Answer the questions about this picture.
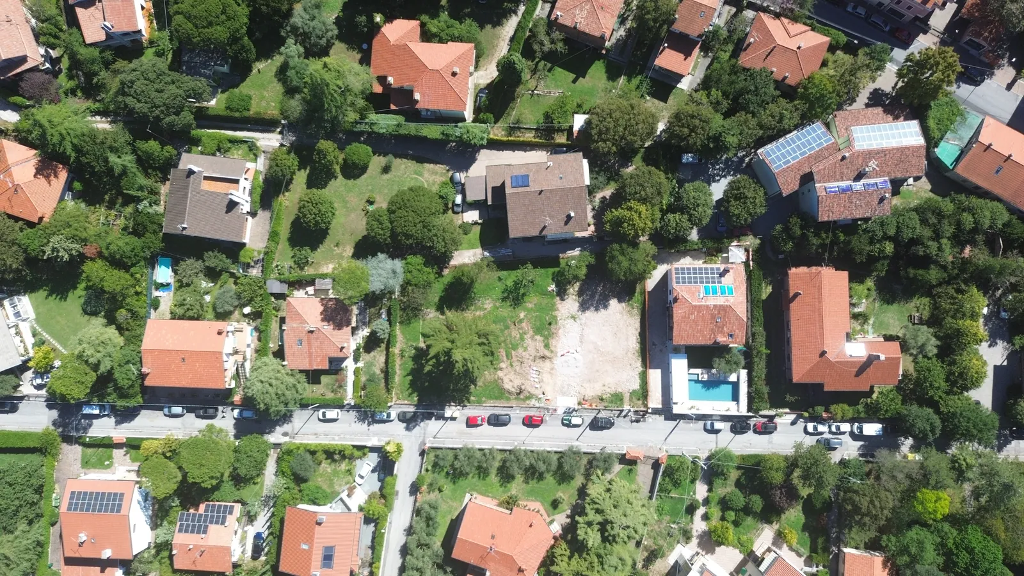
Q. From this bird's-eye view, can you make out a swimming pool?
Yes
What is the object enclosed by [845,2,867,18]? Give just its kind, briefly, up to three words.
car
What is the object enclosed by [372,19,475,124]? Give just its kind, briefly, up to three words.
house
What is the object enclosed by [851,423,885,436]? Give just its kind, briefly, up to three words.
vehicle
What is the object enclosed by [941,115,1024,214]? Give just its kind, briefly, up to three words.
building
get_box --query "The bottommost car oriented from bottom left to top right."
[354,459,375,485]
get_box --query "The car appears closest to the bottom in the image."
[253,533,265,557]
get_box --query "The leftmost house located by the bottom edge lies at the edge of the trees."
[60,471,151,576]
